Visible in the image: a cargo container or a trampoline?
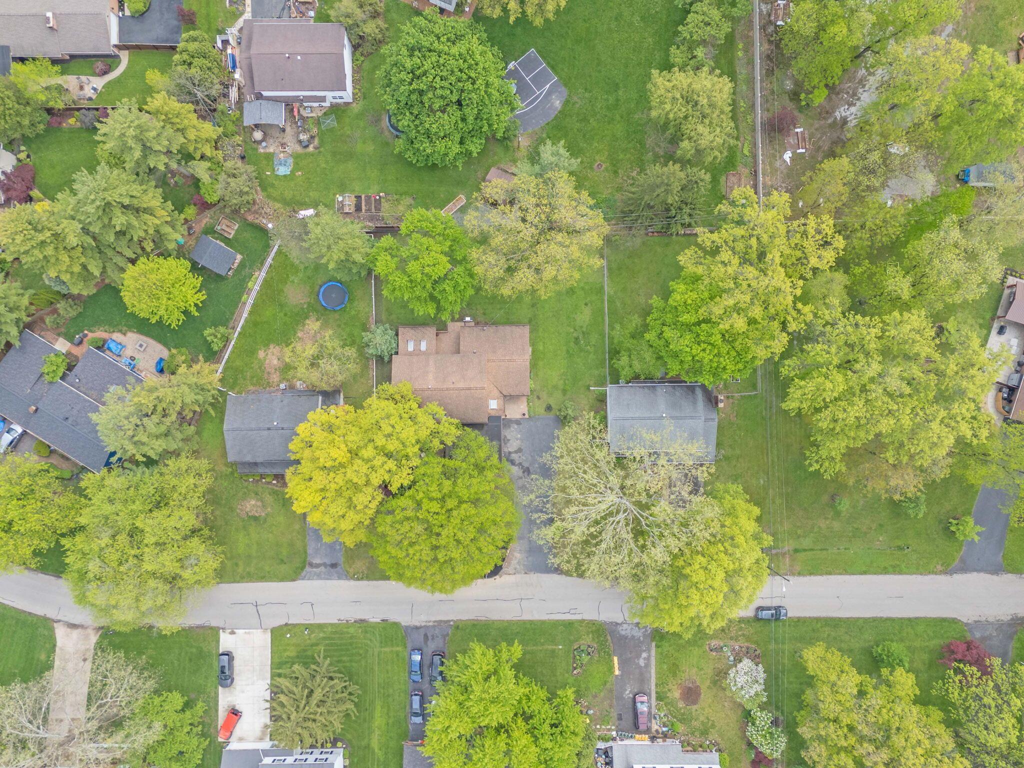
trampoline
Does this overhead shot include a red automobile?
Yes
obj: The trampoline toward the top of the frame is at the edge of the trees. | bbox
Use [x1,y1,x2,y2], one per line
[315,278,347,310]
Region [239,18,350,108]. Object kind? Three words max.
house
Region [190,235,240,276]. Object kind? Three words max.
shed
